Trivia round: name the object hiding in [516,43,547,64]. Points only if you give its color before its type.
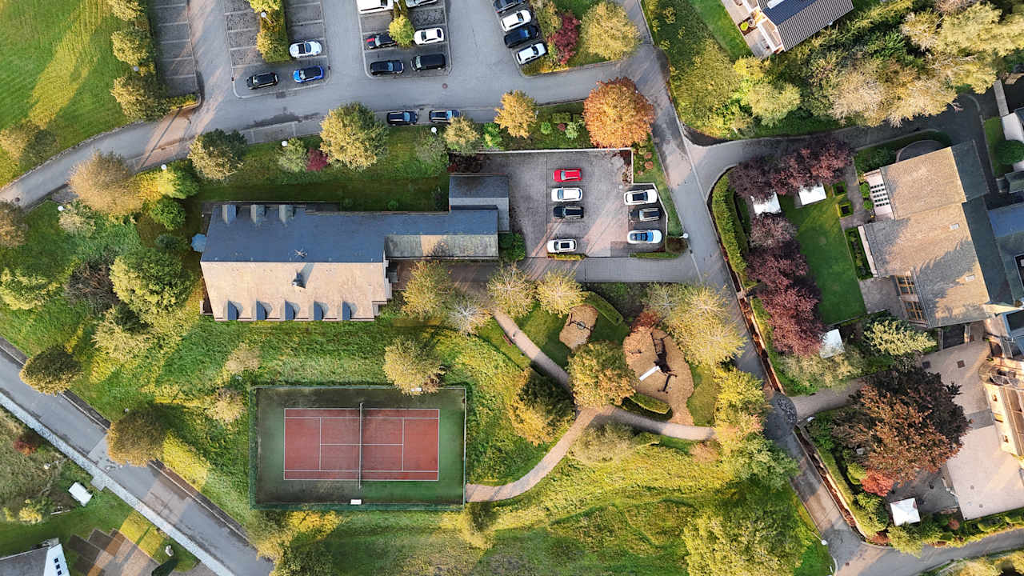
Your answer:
white car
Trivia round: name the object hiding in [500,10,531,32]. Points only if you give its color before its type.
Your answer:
white car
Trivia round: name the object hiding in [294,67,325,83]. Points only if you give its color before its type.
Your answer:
blue car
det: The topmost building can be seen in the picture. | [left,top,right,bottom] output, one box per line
[744,0,867,59]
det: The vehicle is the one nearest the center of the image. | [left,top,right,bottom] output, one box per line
[546,239,576,254]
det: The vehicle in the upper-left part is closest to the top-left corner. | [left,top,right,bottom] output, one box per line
[247,73,279,90]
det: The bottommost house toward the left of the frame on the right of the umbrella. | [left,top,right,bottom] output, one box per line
[200,204,497,322]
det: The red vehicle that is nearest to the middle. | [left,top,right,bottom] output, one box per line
[552,167,582,182]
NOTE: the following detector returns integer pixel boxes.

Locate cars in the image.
[405,0,437,10]
[516,43,547,64]
[551,187,582,202]
[492,0,523,15]
[552,167,582,182]
[415,29,445,45]
[628,207,661,222]
[500,10,531,32]
[627,229,661,244]
[553,204,583,219]
[367,34,397,50]
[247,73,279,90]
[371,59,404,76]
[291,41,321,59]
[294,67,325,83]
[429,108,460,124]
[505,25,538,47]
[624,188,657,205]
[388,109,418,125]
[546,239,576,254]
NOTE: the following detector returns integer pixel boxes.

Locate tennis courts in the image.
[257,388,465,504]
